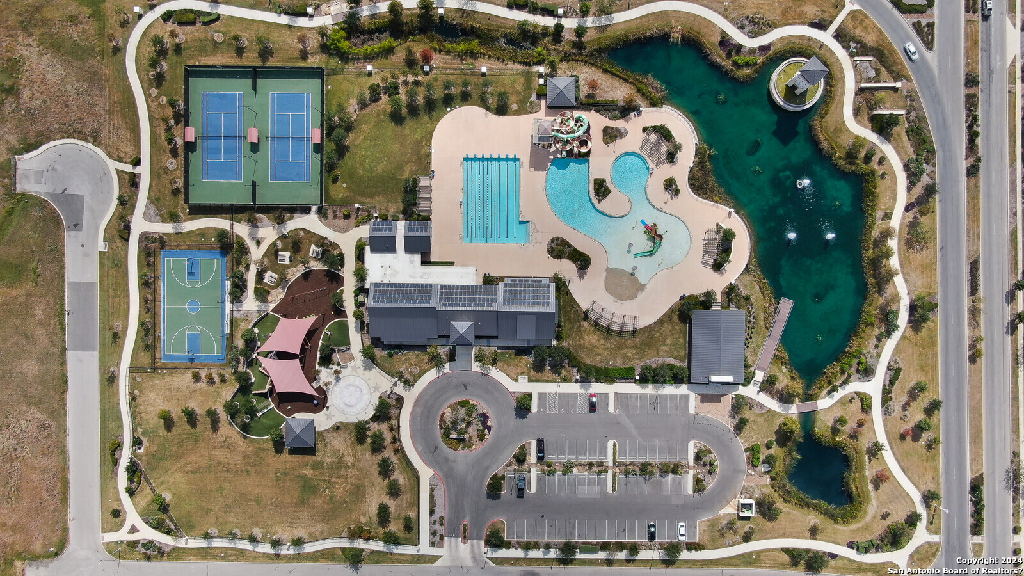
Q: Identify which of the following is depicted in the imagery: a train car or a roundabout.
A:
roundabout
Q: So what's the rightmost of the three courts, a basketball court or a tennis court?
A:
tennis court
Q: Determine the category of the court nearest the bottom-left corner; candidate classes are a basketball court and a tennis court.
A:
basketball court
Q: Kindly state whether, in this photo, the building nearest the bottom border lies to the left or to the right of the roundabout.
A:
to its left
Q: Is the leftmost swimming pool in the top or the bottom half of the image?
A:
top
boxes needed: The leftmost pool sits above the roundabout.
[460,154,531,244]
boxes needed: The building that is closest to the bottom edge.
[286,417,316,447]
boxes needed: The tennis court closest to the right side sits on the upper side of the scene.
[254,69,318,203]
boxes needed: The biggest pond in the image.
[613,39,866,418]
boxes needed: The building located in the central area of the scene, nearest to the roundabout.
[364,221,558,371]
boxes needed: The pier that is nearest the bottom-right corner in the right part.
[755,297,795,375]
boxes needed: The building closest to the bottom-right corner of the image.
[687,310,745,394]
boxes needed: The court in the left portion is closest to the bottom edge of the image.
[161,250,226,362]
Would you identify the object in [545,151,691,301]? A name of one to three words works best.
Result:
swimming pool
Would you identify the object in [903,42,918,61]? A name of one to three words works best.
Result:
car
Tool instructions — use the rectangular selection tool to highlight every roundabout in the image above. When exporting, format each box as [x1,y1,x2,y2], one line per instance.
[410,371,518,478]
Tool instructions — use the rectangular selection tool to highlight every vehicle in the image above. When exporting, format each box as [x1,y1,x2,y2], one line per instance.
[517,473,524,496]
[677,522,686,540]
[647,521,656,539]
[982,0,993,19]
[589,394,597,411]
[537,438,544,459]
[903,42,918,61]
